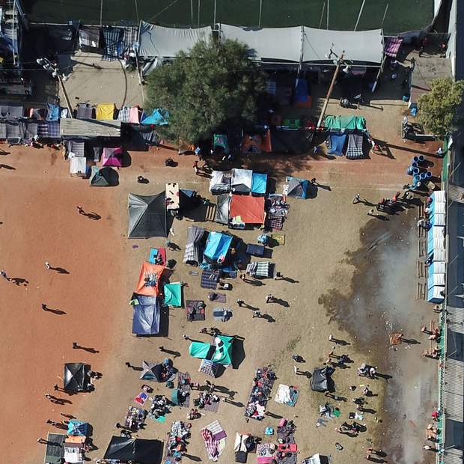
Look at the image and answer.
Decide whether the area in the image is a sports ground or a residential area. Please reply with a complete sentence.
It's a sports ground.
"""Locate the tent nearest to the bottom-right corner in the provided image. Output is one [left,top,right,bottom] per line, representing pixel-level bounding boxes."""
[311,367,332,393]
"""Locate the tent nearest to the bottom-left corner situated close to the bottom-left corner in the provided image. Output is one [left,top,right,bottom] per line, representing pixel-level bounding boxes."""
[67,420,91,438]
